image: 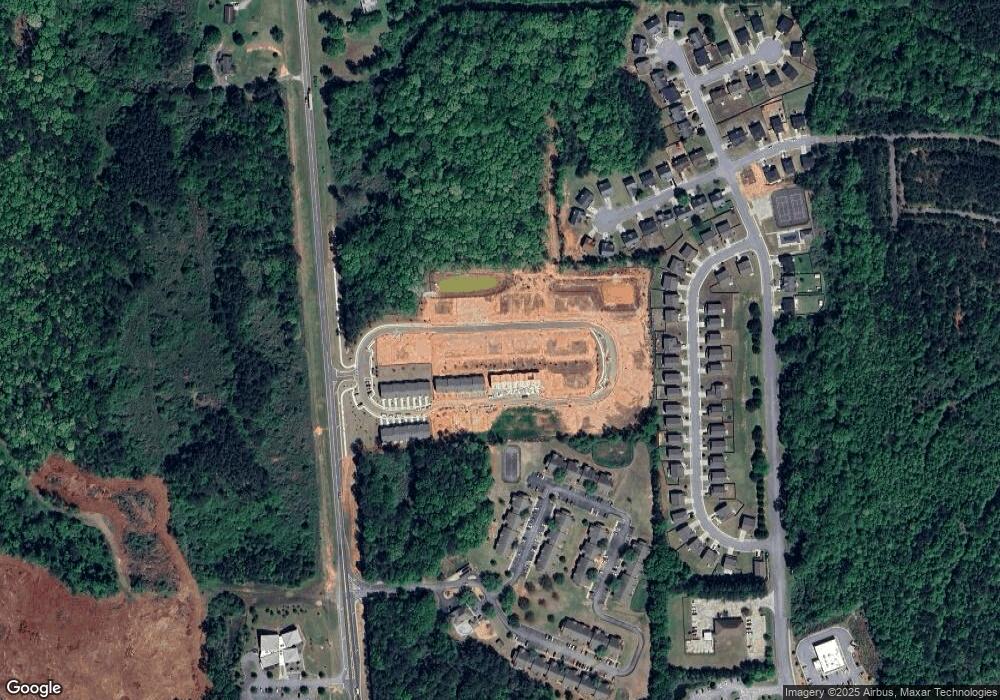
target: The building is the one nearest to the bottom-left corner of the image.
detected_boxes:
[261,630,303,679]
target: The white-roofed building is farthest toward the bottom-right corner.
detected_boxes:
[814,639,846,673]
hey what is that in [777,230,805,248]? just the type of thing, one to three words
swimming pool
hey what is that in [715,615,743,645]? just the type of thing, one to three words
building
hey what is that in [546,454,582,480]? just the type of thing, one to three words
building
